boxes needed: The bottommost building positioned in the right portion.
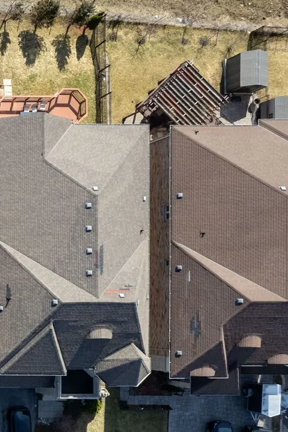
[151,117,288,395]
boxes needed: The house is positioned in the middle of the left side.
[0,113,152,399]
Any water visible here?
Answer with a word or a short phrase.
No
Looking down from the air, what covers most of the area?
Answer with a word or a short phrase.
buildings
